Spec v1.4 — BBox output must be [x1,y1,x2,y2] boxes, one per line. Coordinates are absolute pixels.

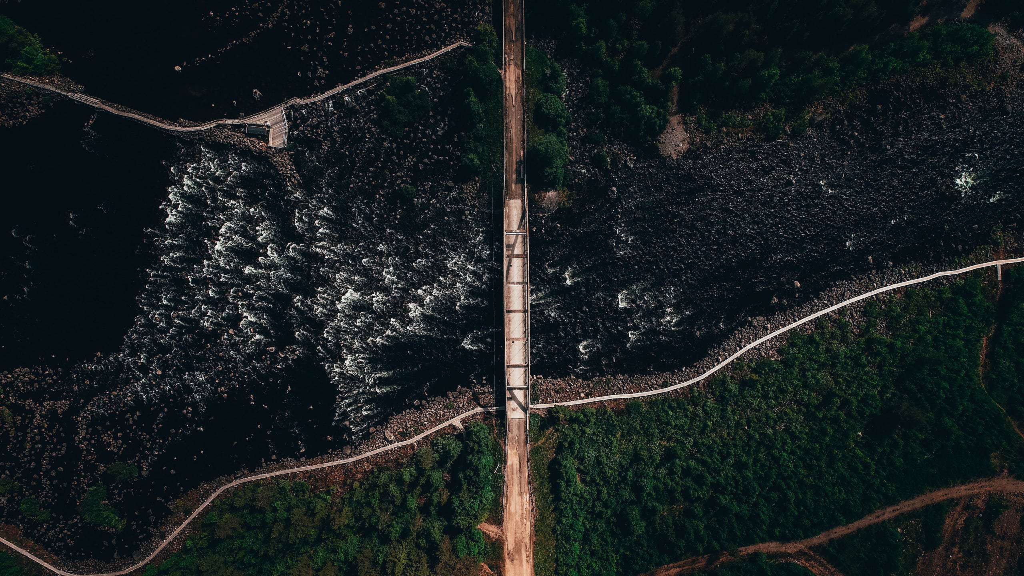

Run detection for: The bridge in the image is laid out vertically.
[503,199,531,419]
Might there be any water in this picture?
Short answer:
Yes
